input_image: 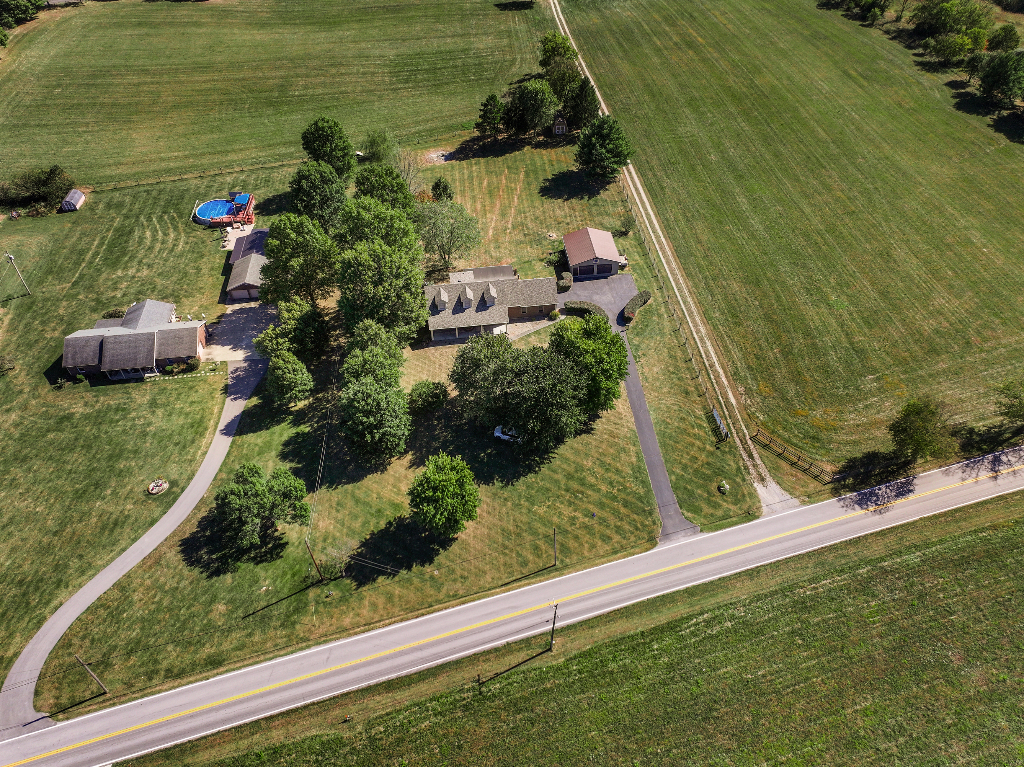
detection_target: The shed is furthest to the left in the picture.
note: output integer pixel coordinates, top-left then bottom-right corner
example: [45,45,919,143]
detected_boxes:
[60,188,85,211]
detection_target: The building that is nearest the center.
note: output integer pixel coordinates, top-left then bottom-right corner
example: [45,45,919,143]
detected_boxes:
[425,264,559,341]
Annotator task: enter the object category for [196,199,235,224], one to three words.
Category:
swimming pool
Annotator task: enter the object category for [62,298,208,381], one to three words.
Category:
house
